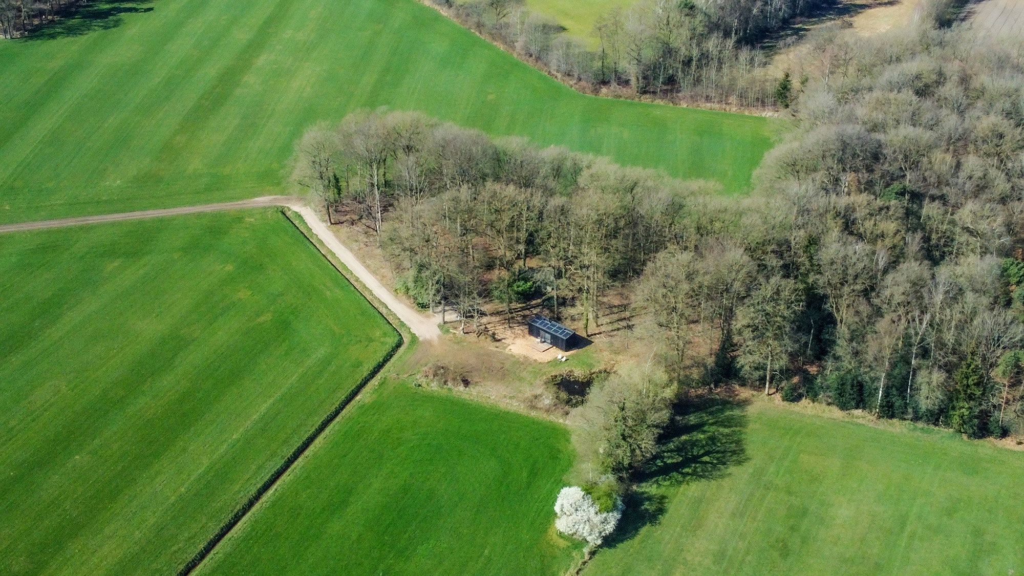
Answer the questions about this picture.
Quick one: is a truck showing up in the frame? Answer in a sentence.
No, no truck is visible in the view.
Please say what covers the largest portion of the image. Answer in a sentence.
For the most part, this view shows grass.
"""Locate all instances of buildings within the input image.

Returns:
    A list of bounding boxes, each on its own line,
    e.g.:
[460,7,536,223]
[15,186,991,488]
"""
[528,313,576,351]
